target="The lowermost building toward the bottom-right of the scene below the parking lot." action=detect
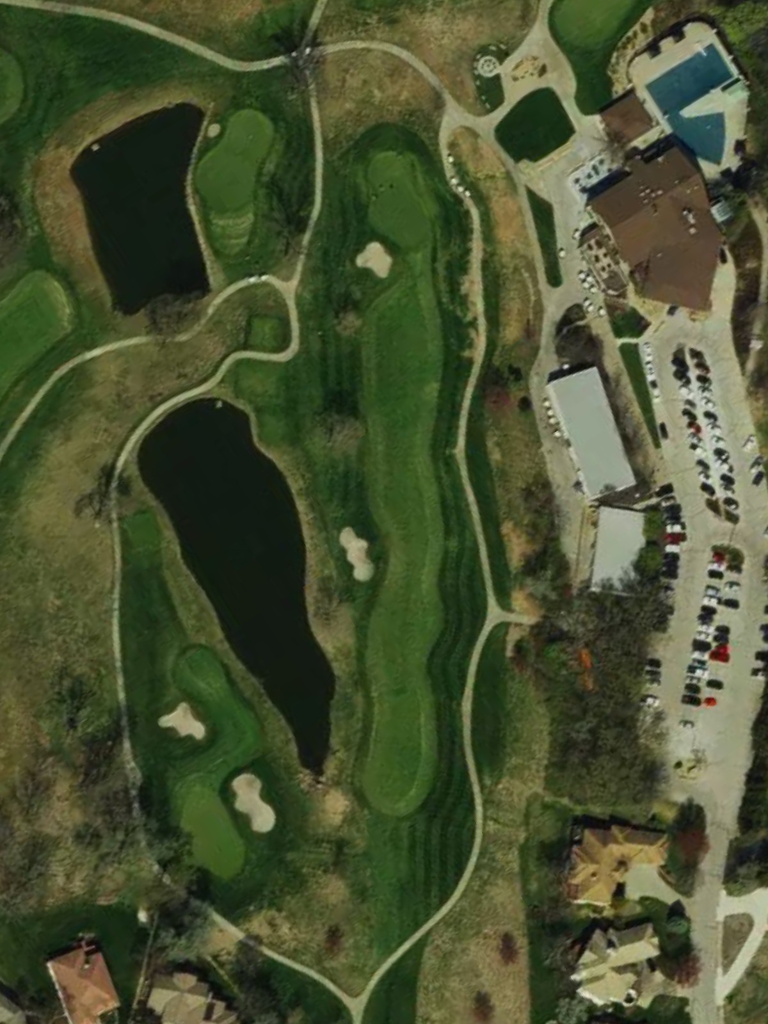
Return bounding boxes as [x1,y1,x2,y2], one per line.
[574,925,663,1005]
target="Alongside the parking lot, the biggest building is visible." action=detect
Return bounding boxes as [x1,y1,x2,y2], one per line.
[586,147,724,312]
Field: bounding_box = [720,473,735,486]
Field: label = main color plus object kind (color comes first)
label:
black vehicle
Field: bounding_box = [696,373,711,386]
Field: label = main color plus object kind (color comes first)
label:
black vehicle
